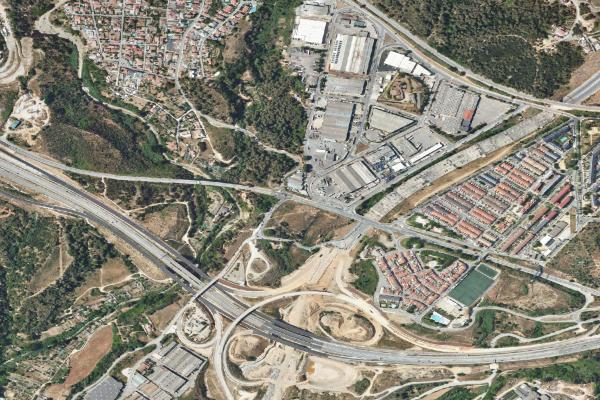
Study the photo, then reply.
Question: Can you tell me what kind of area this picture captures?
residential area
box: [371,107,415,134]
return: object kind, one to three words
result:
building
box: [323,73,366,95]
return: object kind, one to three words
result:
building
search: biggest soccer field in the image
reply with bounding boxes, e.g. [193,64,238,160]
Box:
[449,268,493,309]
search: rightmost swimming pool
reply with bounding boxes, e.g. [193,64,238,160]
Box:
[431,310,451,326]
